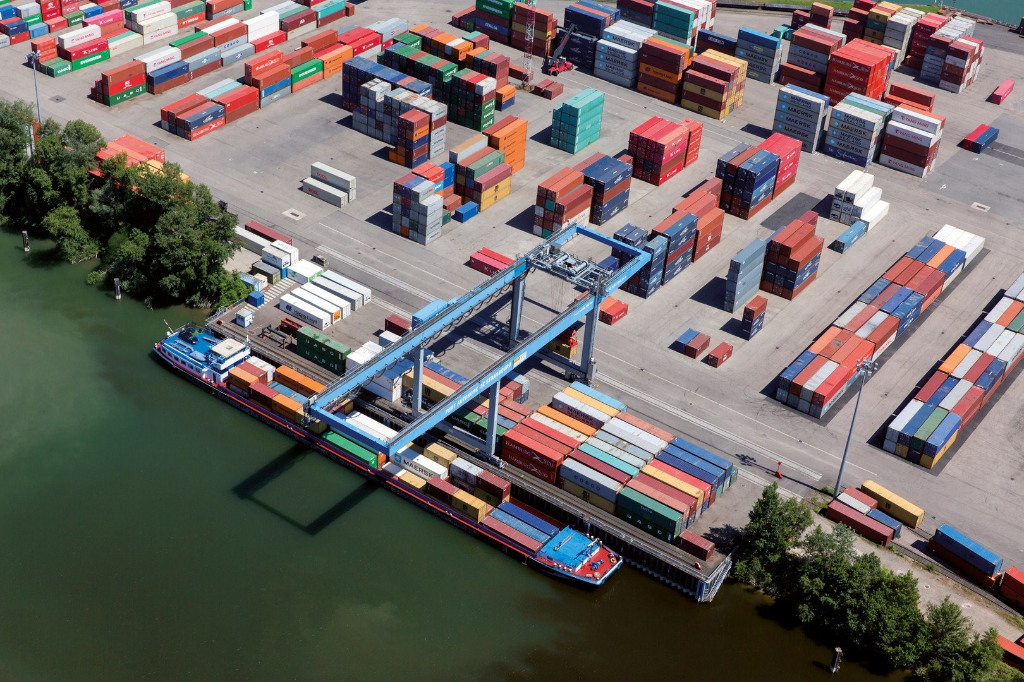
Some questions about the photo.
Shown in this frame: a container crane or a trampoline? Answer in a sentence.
Of the two, only a container crane appears.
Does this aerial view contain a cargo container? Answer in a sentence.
Yes, there's a cargo container here.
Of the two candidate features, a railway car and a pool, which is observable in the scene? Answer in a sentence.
It is a railway car that can be seen here.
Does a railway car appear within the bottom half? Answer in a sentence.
Yes, the scene does show a railway car within the bottom half.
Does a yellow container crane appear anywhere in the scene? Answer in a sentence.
No, I can see no yellow container crane in this picture.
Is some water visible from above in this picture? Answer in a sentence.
Yes, some water is visible.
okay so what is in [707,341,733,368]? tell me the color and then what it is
red shipping container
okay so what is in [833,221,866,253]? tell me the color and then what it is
blue shipping container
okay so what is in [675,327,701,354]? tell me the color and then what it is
blue shipping container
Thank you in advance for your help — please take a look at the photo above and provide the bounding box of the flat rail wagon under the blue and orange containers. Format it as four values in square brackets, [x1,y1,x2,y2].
[922,546,999,590]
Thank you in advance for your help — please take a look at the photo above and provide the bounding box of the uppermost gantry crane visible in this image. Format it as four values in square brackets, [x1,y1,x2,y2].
[292,218,657,465]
